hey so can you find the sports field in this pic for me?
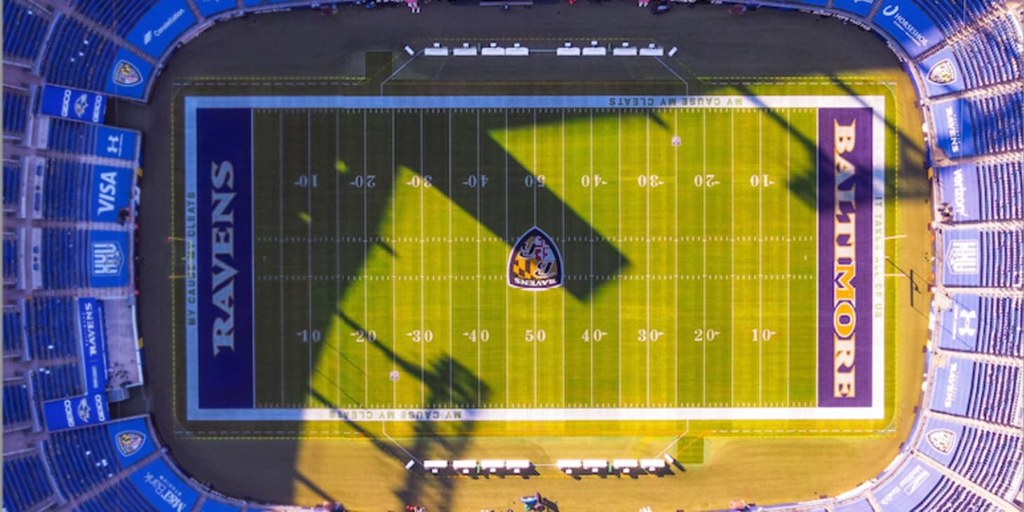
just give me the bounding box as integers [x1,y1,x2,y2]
[173,38,898,478]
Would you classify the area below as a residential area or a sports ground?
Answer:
sports ground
